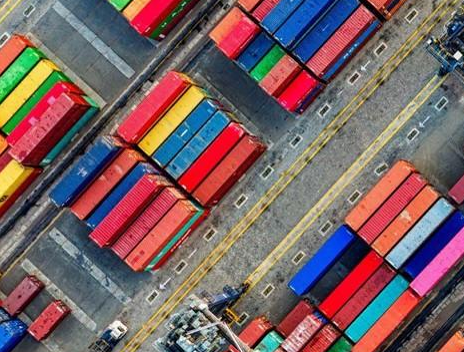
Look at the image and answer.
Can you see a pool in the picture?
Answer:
No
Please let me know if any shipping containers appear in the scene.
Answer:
Yes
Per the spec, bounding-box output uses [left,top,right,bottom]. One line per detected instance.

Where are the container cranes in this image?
[147,283,260,352]
[422,3,464,86]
